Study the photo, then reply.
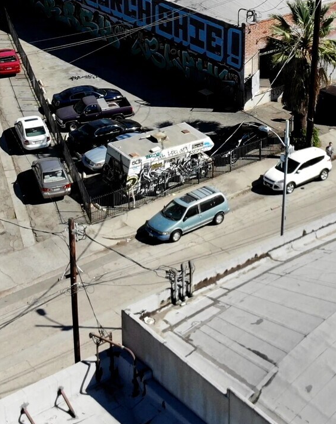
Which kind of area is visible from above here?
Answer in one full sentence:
This image shows an industrial area.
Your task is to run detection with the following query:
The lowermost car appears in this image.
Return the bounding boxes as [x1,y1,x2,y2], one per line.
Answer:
[146,183,231,240]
